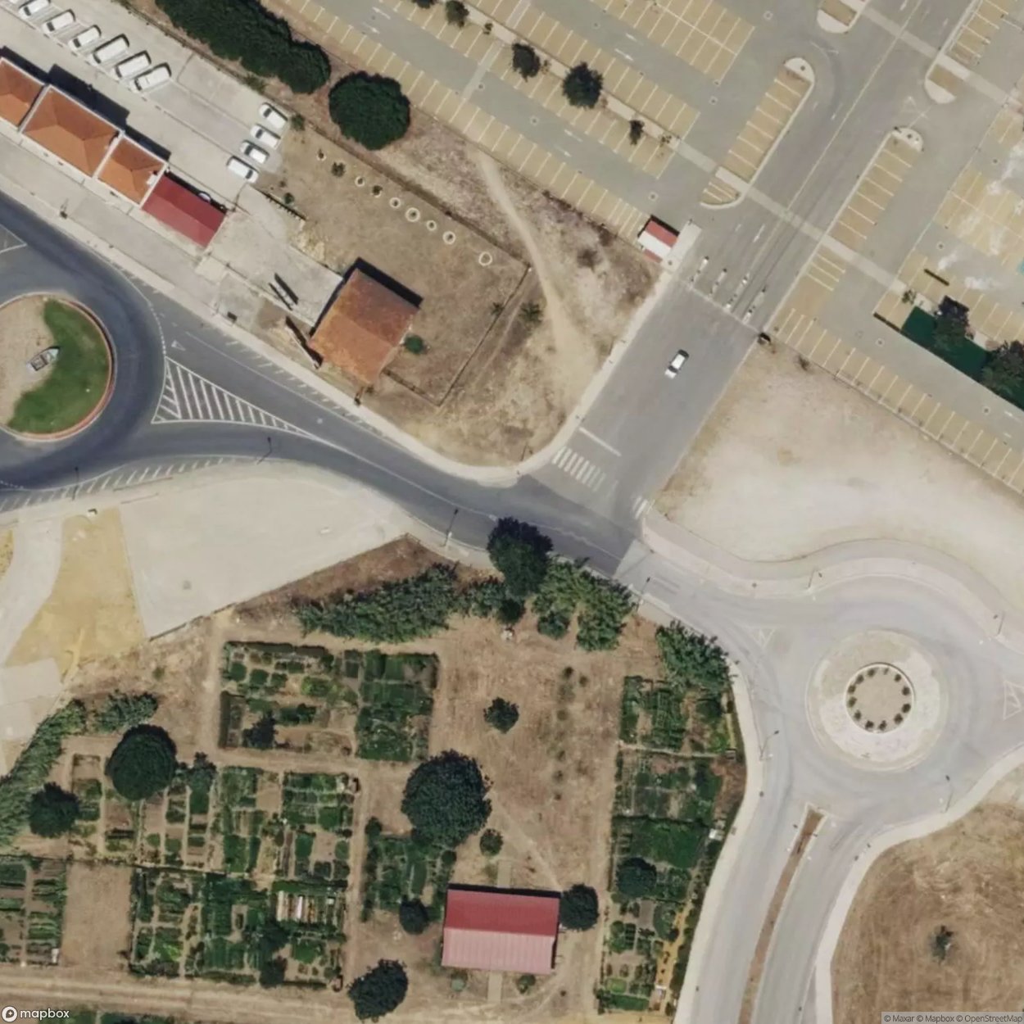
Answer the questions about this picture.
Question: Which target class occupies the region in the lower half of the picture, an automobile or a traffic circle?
traffic circle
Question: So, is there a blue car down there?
No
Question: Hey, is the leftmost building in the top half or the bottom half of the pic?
top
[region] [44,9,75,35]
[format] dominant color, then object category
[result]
white car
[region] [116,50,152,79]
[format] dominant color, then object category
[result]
white van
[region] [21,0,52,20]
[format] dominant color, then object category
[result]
white car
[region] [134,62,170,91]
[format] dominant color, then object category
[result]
white van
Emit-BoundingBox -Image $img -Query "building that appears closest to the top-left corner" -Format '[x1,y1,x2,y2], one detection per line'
[0,55,43,127]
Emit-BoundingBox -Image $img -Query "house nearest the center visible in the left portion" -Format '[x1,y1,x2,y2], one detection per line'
[308,268,420,385]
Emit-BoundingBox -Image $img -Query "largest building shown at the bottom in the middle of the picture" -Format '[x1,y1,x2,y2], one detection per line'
[441,890,560,975]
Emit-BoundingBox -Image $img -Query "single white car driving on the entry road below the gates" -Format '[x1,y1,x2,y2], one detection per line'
[665,350,688,379]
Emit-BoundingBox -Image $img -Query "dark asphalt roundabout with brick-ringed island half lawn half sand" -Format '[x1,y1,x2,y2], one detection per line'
[0,243,165,491]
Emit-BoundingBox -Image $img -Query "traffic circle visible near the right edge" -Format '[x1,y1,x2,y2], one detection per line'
[756,577,1001,822]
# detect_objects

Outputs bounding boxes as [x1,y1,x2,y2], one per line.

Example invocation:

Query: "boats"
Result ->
[26,350,58,371]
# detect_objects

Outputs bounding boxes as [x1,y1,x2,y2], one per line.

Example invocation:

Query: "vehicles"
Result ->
[258,104,287,129]
[227,156,257,182]
[116,50,152,79]
[44,9,75,35]
[134,62,170,91]
[665,350,688,379]
[21,0,52,20]
[249,124,278,148]
[70,25,102,50]
[92,35,128,64]
[240,140,268,165]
